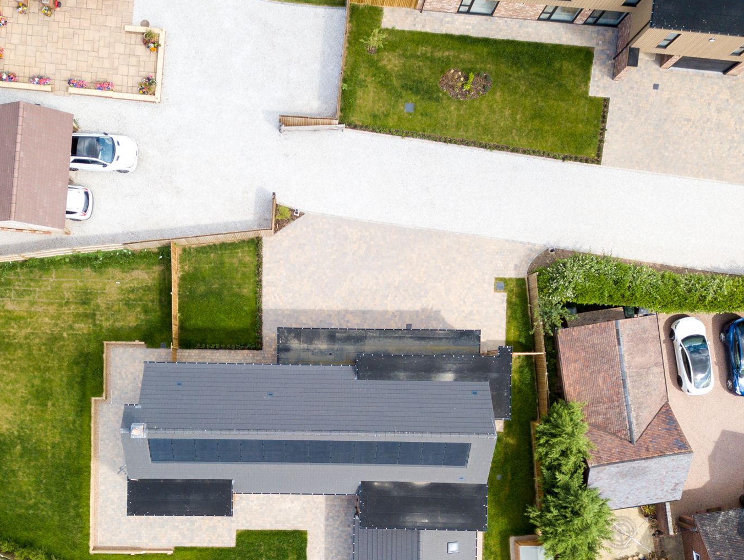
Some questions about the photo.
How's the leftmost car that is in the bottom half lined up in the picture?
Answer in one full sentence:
The leftmost car that is in the bottom half is oriented vertically.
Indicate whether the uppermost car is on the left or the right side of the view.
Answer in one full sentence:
The uppermost car sits on the left side.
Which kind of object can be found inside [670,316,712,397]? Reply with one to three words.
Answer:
car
